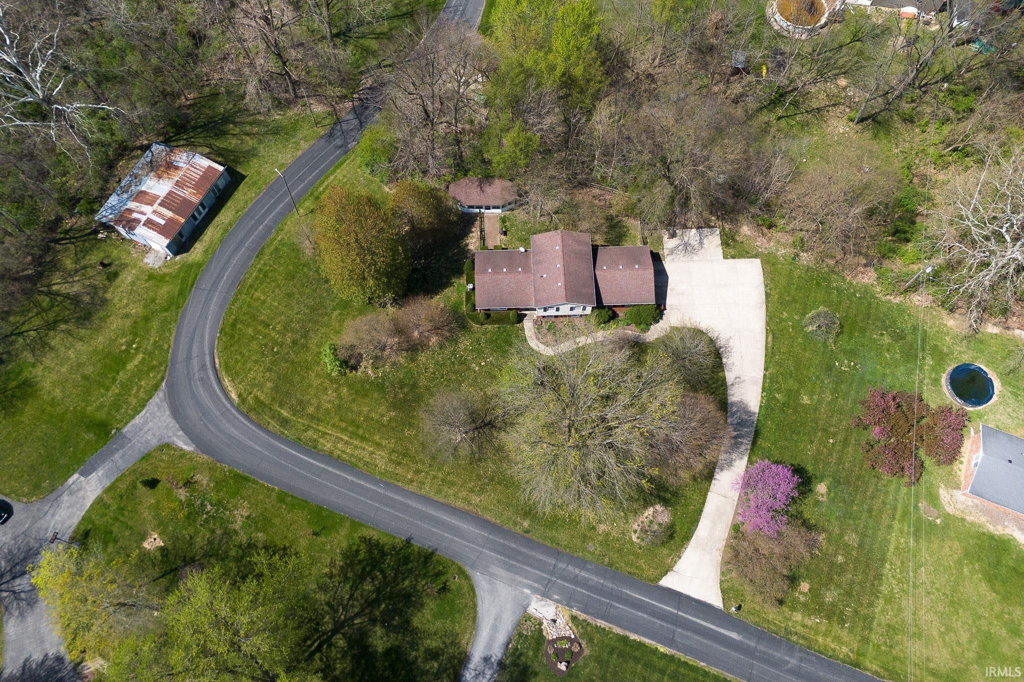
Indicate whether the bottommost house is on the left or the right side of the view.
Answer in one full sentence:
It is on the right.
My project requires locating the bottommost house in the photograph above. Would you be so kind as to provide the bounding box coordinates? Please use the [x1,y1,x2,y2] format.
[958,422,1024,518]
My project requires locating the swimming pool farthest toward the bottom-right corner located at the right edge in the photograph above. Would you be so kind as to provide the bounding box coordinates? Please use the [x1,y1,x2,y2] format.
[943,363,996,410]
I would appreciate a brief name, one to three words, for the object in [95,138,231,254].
barn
